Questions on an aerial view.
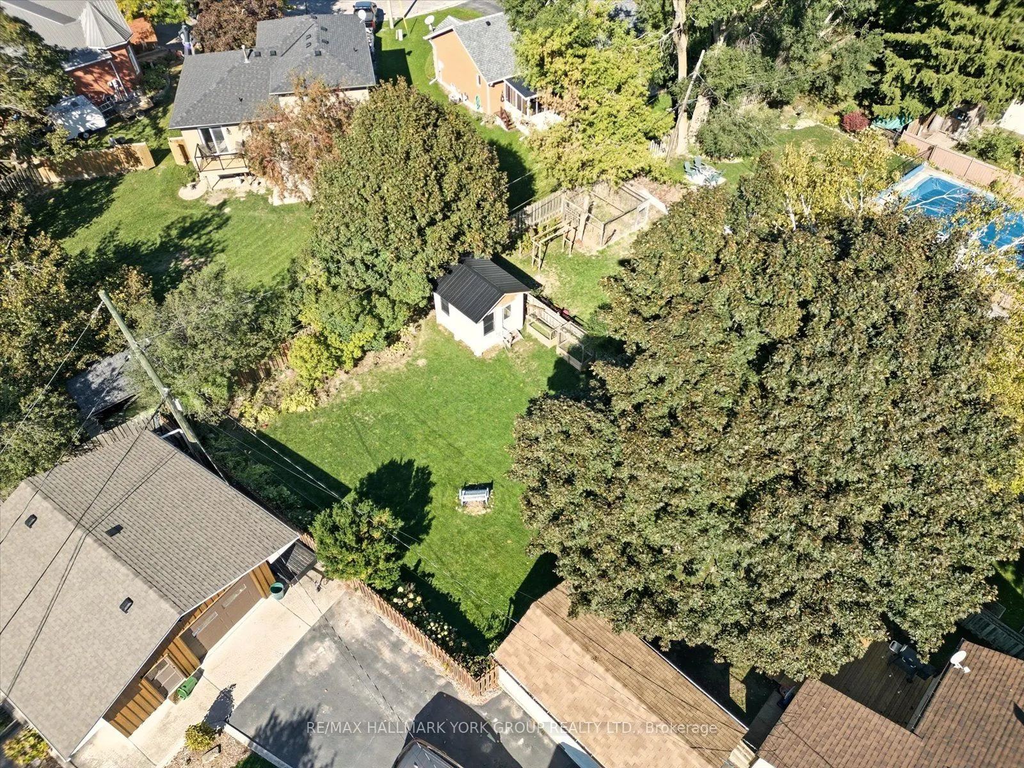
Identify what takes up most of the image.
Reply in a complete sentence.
Most of the picture is covered by trees.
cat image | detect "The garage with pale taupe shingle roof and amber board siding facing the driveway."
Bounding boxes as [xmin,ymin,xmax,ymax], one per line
[0,428,302,768]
